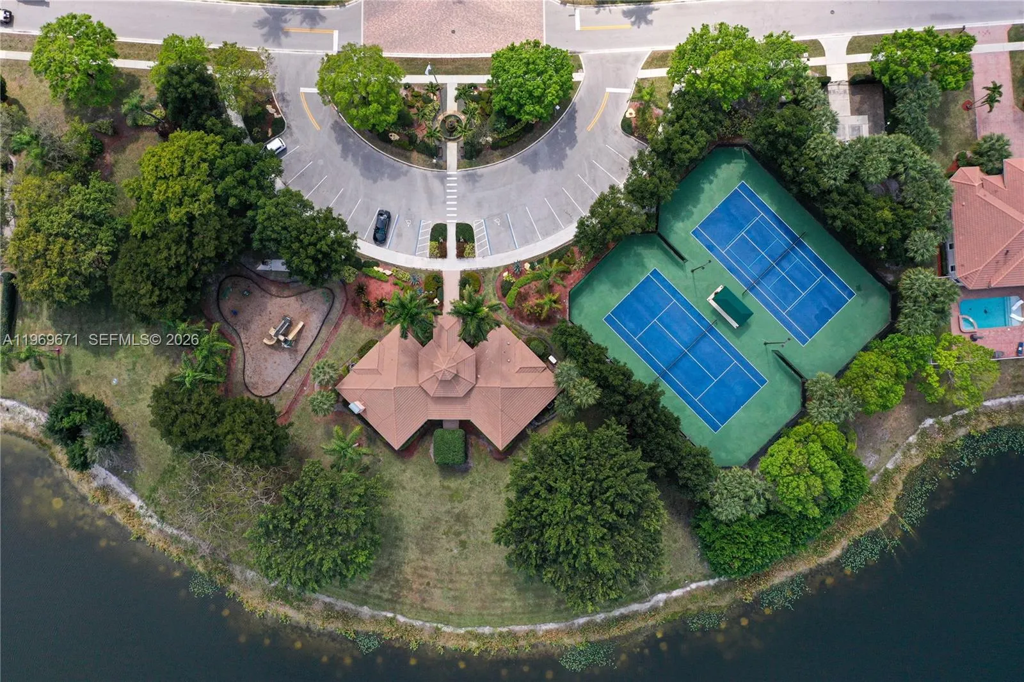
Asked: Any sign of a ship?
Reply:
No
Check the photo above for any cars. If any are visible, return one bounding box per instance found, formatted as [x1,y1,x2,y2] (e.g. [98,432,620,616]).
[257,135,287,161]
[373,210,391,245]
[0,10,14,27]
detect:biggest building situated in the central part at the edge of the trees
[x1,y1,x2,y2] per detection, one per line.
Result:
[335,315,561,452]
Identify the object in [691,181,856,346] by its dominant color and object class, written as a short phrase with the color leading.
blue tennis court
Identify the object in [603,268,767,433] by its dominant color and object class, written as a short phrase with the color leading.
blue tennis court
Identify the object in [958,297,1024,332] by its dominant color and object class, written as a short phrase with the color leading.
blue swimming pool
